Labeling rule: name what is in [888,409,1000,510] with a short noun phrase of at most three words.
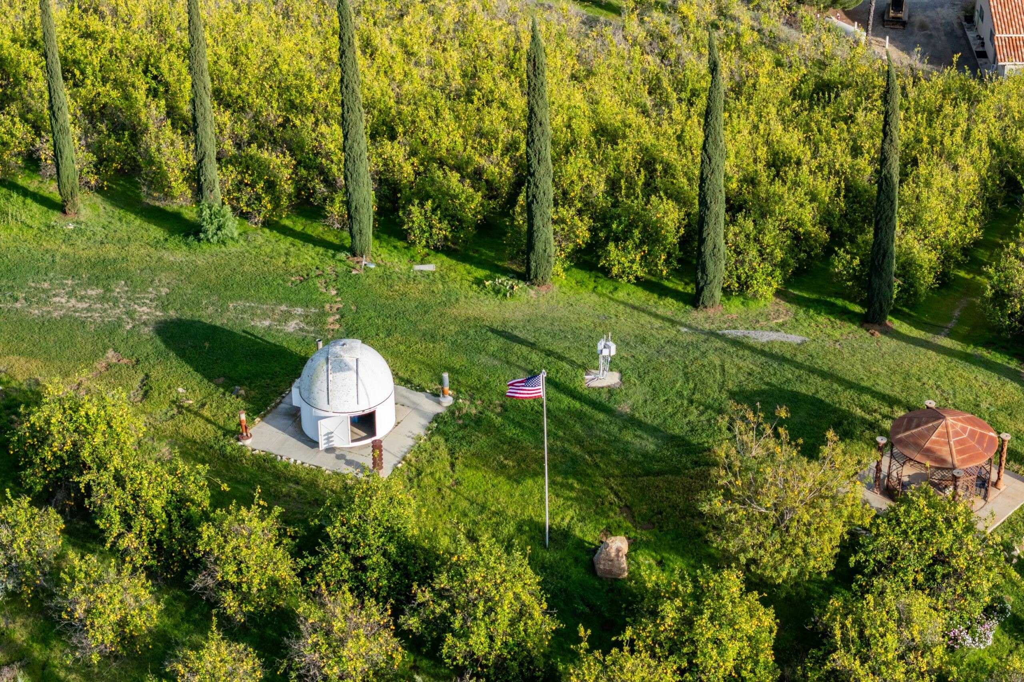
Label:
gazebo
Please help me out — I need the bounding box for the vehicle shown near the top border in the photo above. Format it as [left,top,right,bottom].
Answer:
[884,0,907,29]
